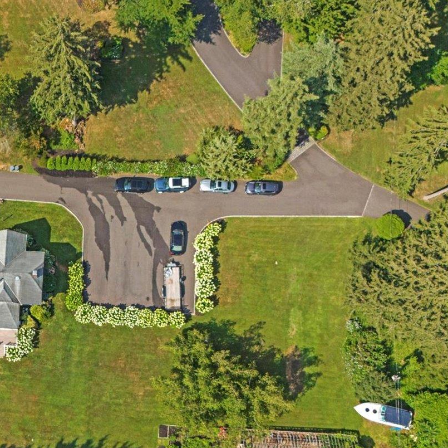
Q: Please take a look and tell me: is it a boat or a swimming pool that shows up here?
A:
boat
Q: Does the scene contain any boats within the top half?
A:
No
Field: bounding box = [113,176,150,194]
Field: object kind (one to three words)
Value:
car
